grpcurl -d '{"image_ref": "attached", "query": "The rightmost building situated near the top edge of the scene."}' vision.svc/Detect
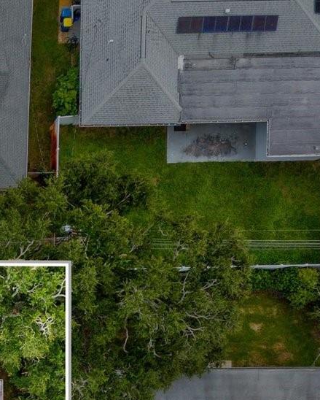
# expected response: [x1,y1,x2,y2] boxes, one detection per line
[76,0,320,160]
